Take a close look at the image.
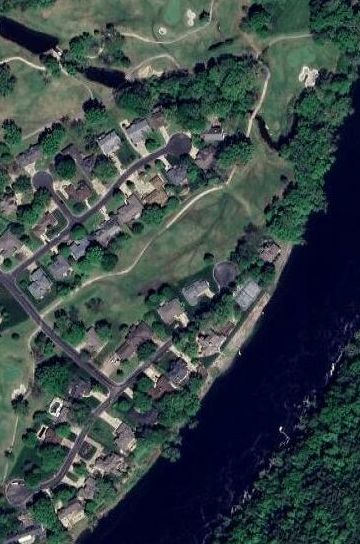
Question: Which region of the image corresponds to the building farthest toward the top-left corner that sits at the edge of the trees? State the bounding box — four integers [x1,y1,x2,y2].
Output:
[16,143,44,166]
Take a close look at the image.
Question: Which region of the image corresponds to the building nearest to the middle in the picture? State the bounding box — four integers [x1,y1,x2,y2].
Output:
[180,275,211,305]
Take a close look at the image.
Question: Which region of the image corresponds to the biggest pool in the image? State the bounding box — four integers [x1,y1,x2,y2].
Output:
[50,398,62,417]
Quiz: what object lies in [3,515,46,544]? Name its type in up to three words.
house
